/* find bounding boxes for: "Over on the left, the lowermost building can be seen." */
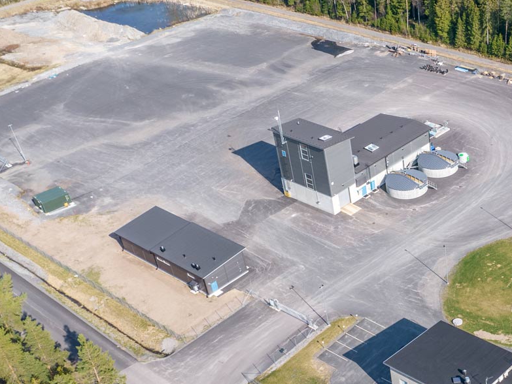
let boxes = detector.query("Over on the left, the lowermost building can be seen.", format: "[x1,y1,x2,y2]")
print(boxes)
[109,205,249,297]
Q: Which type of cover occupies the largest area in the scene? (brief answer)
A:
paved ground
